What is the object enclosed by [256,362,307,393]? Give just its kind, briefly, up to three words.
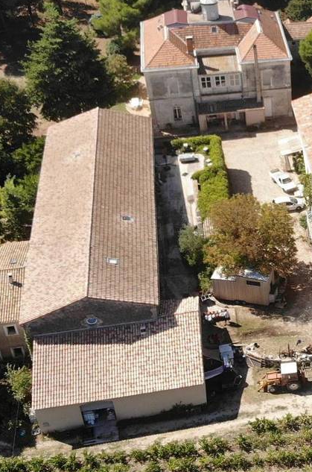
work vehicle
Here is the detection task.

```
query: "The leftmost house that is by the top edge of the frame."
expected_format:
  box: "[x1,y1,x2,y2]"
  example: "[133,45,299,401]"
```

[140,0,296,133]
